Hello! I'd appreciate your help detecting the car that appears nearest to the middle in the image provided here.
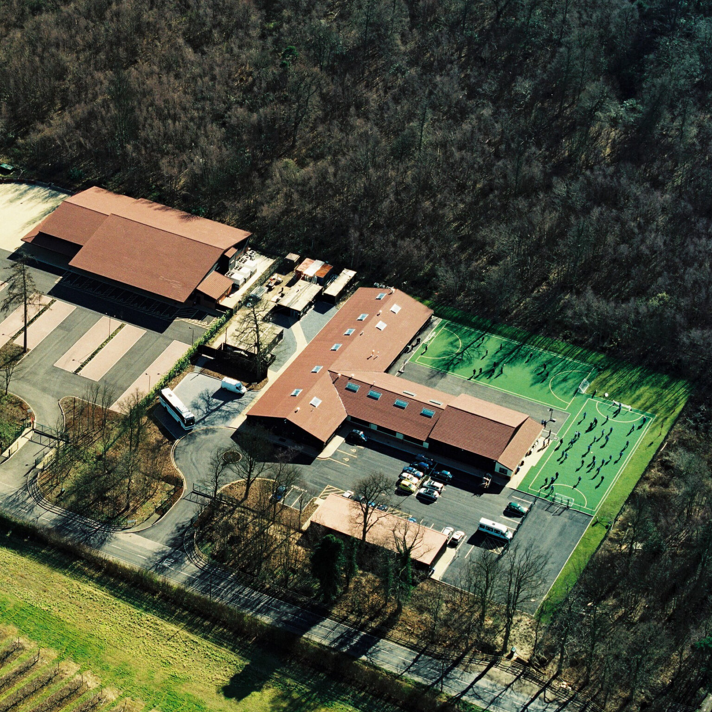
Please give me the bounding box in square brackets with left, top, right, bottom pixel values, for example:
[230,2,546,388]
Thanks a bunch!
[344,429,369,445]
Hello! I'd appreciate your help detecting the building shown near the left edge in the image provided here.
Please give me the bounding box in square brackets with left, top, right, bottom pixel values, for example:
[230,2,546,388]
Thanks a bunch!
[21,187,252,314]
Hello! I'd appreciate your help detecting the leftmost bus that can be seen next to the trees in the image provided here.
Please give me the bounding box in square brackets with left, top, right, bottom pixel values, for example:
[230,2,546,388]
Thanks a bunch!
[158,386,199,433]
